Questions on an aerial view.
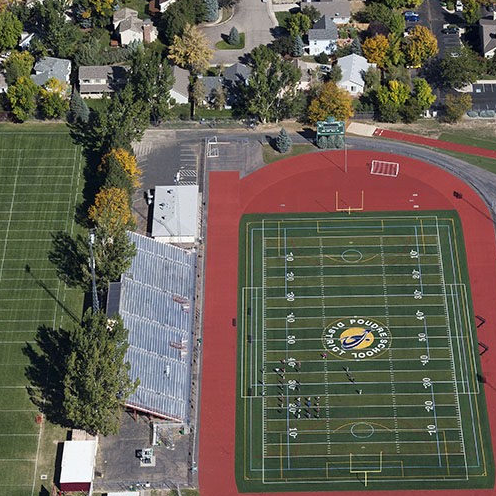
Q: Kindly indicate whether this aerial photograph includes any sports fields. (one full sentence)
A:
Yes, looking at the shot, I can spot a sports field.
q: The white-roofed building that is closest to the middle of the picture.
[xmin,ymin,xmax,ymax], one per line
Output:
[152,186,198,245]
